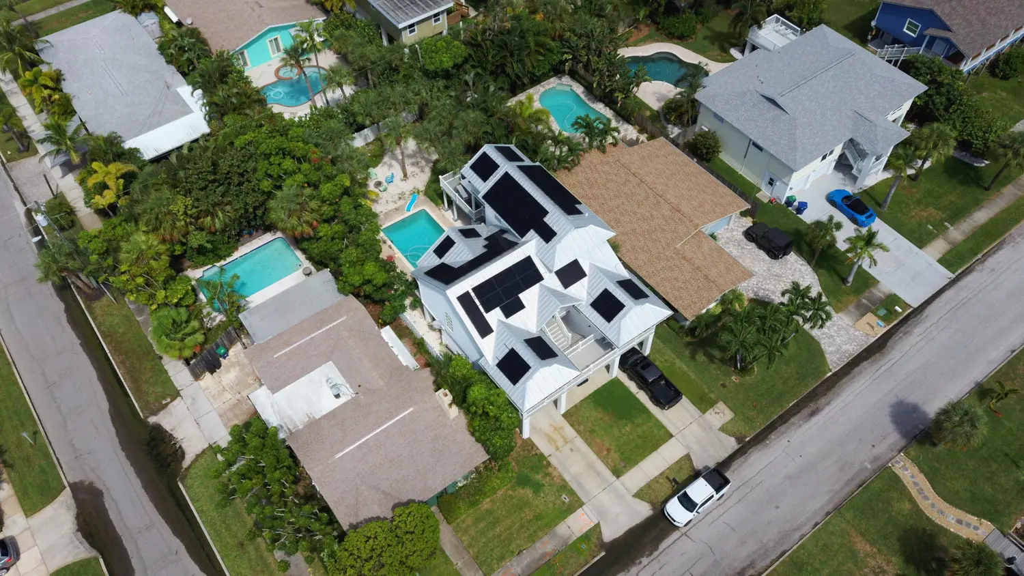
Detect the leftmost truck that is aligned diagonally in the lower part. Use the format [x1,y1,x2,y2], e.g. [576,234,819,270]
[619,349,683,412]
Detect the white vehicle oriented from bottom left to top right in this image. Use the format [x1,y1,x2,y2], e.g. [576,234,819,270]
[665,462,733,527]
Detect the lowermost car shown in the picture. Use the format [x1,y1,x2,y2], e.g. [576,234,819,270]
[0,537,20,572]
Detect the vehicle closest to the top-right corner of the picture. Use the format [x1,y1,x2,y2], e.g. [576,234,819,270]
[828,192,877,228]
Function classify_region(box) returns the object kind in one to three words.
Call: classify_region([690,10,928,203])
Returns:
house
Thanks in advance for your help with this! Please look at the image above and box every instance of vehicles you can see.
[619,349,683,412]
[743,224,792,258]
[665,462,733,527]
[828,192,877,228]
[0,537,20,572]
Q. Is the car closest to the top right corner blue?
Yes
